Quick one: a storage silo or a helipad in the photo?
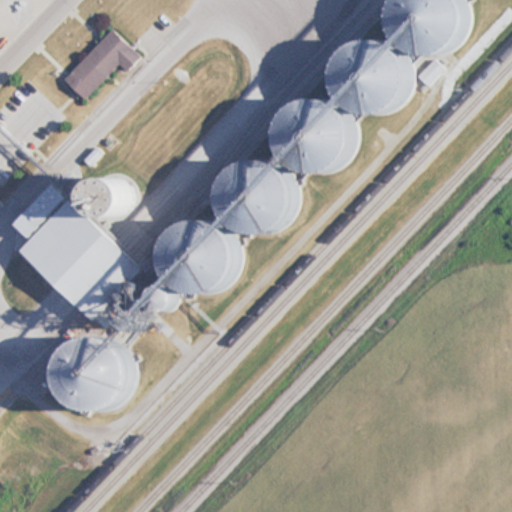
storage silo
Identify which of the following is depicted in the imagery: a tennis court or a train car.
train car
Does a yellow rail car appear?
No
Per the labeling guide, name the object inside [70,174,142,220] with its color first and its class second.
white silo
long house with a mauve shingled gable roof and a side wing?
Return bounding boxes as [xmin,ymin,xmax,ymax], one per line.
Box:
[64,30,141,99]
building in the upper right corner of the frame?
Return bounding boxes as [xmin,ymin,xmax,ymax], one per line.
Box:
[419,61,447,86]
